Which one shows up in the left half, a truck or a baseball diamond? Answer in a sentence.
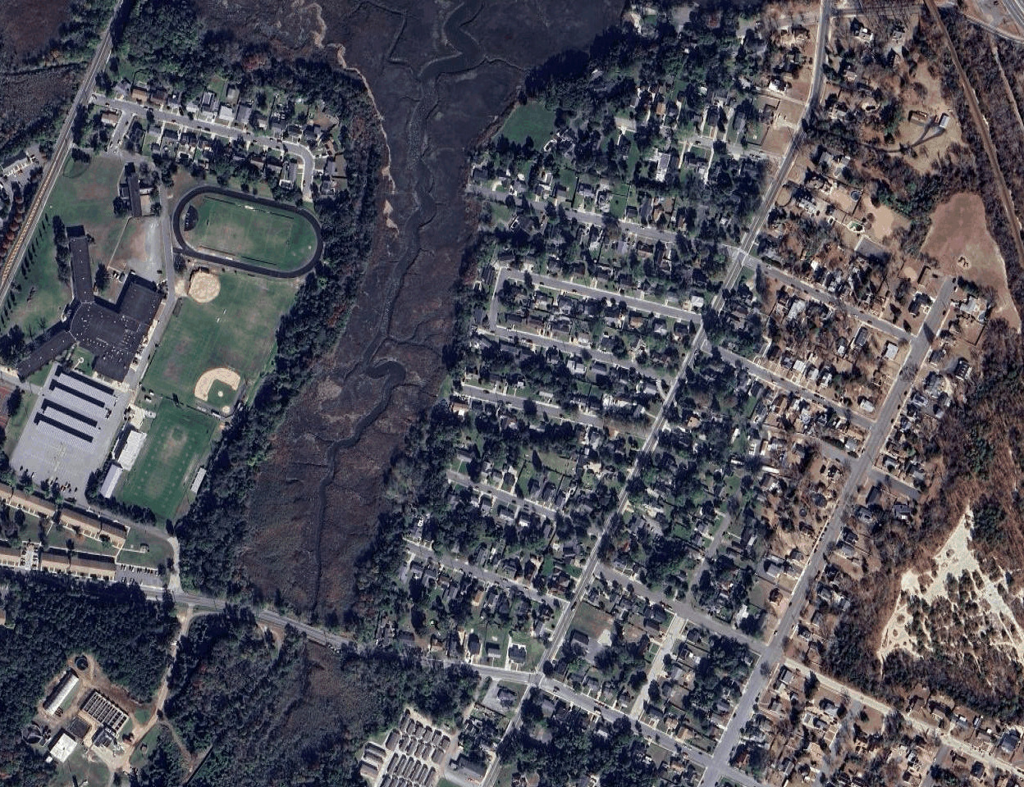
Visible in the left half is a baseball diamond.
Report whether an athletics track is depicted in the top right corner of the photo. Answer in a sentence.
No, no athletics track can be made out in the top right corner of the photo.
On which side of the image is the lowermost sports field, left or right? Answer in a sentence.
It is on the left.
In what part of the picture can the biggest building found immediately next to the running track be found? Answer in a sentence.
The biggest building found immediately next to the running track sits in the left section of the image.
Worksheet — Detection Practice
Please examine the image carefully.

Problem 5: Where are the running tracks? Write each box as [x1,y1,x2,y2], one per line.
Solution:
[172,183,324,280]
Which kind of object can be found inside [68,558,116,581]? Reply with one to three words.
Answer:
building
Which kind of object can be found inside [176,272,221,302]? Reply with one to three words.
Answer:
baseball field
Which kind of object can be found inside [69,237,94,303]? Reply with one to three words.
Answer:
building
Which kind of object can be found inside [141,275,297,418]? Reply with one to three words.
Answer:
baseball field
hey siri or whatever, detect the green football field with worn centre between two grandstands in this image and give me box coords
[115,396,218,521]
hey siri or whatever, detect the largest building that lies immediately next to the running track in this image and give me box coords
[66,282,162,381]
